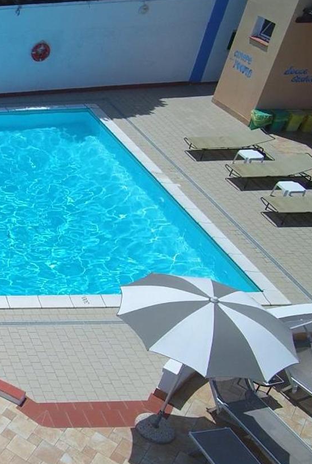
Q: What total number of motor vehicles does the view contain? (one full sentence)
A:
There are no motor vehicles in this view.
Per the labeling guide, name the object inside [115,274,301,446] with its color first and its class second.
white umbrella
